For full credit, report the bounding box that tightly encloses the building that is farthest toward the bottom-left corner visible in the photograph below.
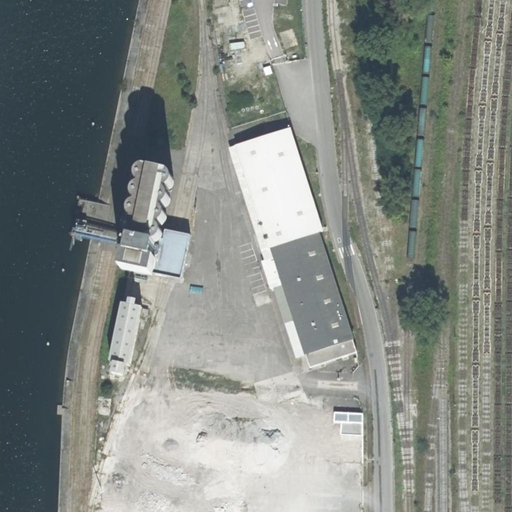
[108,296,143,382]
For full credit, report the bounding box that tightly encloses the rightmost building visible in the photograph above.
[334,412,363,436]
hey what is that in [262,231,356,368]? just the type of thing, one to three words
building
